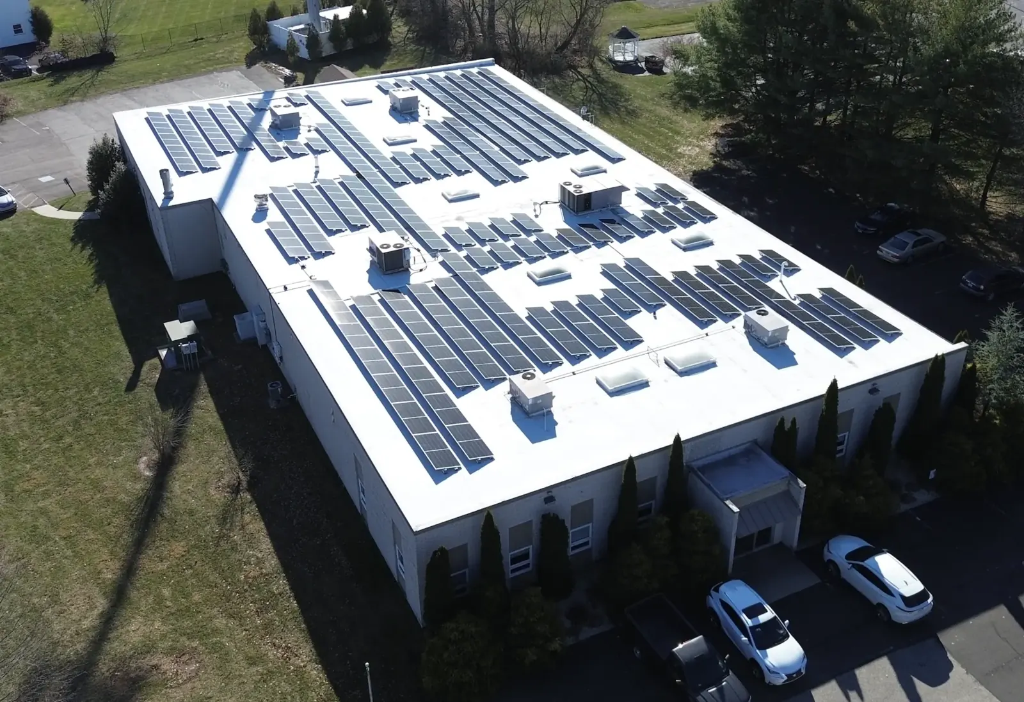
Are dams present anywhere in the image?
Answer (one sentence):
No, no dam can be seen from above.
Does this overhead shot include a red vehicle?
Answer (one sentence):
No, I can see no red vehicle in this picture.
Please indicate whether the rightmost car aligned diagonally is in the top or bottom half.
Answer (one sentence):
Seen from above, the rightmost car aligned diagonally lies in the bottom half of the view.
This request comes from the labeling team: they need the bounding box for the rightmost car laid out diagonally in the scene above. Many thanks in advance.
[817,532,929,629]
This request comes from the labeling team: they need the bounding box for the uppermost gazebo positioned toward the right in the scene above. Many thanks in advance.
[603,23,642,64]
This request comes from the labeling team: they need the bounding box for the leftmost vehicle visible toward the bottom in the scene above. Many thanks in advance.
[619,582,744,702]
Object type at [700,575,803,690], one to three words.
car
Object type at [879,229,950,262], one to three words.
car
